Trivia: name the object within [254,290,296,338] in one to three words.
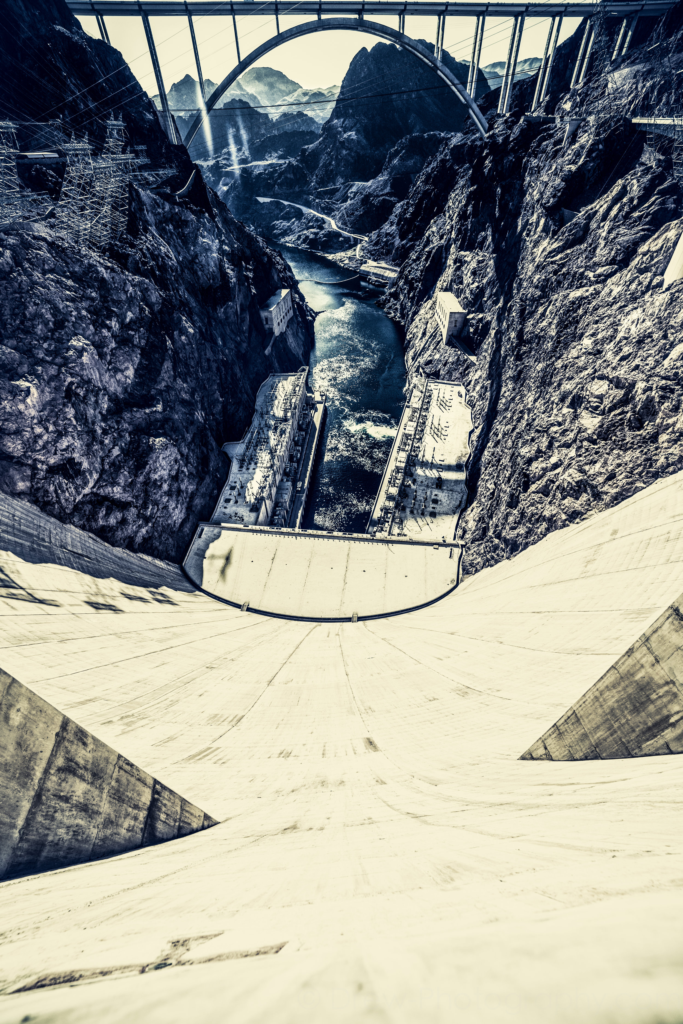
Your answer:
building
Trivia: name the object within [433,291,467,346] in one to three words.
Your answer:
building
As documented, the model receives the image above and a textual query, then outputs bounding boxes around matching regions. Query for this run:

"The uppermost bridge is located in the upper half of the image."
[85,0,671,149]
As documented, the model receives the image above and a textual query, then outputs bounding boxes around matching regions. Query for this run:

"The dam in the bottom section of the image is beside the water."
[0,462,683,1024]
